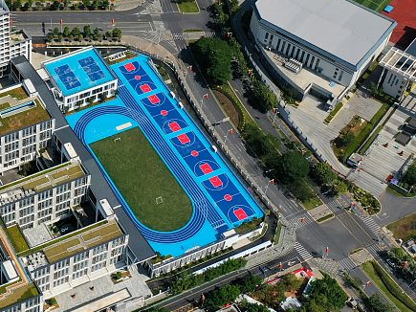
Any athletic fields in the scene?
Yes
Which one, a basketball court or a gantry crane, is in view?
basketball court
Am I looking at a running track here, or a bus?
running track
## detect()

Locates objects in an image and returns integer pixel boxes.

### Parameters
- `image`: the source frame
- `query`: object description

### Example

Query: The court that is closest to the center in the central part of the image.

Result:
[170,130,222,175]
